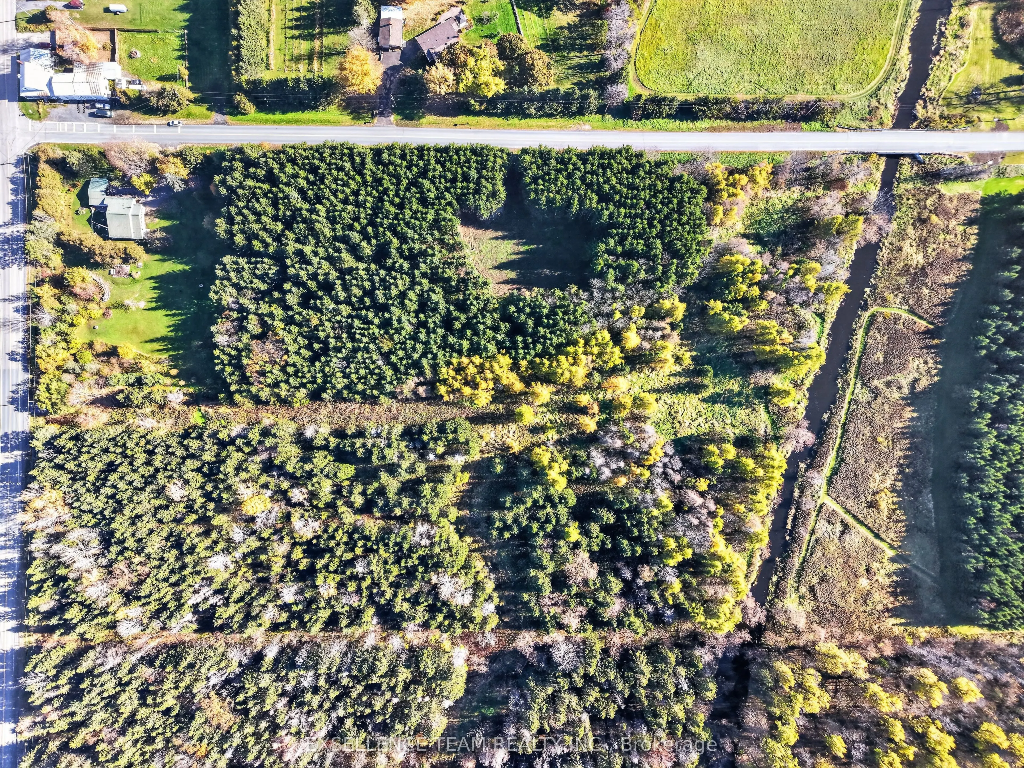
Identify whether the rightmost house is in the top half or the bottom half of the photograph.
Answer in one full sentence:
You can find the rightmost house in the top half.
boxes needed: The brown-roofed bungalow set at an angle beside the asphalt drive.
[415,14,462,66]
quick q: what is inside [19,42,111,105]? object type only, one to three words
house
